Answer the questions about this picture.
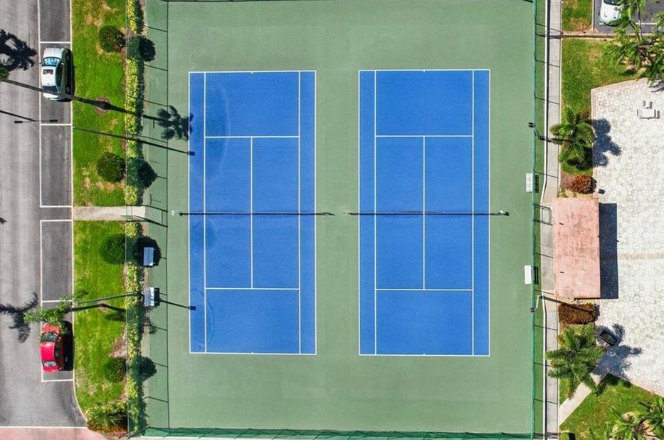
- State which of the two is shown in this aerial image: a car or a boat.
car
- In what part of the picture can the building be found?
right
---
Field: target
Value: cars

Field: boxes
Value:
[601,0,628,23]
[34,320,66,374]
[36,45,68,99]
